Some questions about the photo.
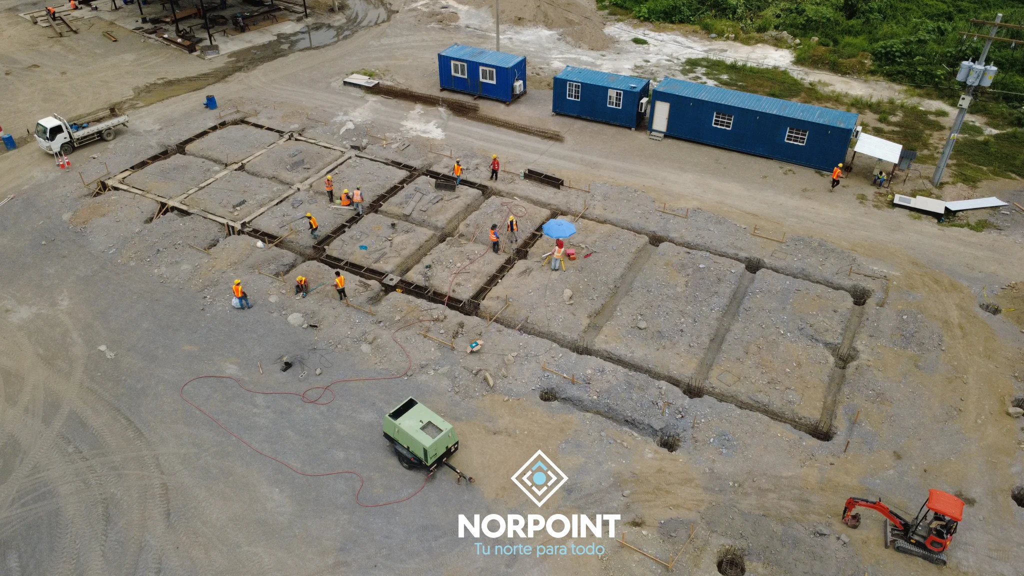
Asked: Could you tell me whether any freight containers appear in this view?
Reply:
Yes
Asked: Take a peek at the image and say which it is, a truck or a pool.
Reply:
truck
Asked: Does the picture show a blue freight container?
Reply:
Yes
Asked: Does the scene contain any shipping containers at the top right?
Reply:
Yes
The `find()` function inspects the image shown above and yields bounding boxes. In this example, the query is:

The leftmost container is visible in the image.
[438,45,526,102]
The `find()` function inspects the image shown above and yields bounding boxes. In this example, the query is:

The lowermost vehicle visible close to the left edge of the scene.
[27,108,126,155]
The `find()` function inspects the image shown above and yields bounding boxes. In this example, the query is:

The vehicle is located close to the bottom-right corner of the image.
[842,487,969,566]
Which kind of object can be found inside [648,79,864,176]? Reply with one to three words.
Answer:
shipping container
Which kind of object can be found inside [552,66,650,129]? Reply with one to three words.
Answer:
shipping container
